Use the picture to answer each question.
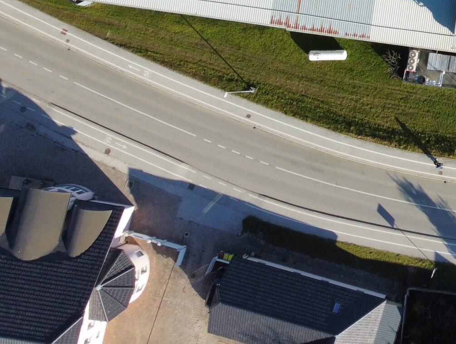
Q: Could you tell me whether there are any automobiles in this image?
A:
No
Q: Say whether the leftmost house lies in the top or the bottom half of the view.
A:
bottom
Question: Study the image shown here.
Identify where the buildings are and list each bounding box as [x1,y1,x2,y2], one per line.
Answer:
[77,0,456,54]
[206,254,388,344]
[0,184,151,344]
